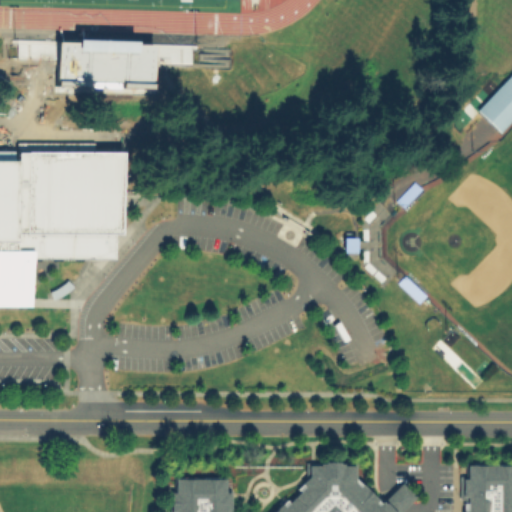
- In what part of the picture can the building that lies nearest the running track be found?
top left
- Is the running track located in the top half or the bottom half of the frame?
top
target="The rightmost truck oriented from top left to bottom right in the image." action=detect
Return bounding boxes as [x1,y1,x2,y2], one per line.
[329,314,354,344]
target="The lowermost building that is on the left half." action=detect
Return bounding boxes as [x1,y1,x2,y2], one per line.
[173,479,234,512]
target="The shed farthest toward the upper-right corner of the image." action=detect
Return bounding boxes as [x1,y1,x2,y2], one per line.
[478,72,512,134]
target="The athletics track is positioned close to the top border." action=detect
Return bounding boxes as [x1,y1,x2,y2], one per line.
[0,0,317,35]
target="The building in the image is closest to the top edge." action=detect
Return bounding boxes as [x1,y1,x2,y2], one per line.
[11,40,197,95]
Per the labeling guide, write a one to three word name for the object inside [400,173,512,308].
baseball field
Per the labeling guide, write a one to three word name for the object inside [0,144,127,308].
building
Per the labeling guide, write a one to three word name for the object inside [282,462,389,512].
building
